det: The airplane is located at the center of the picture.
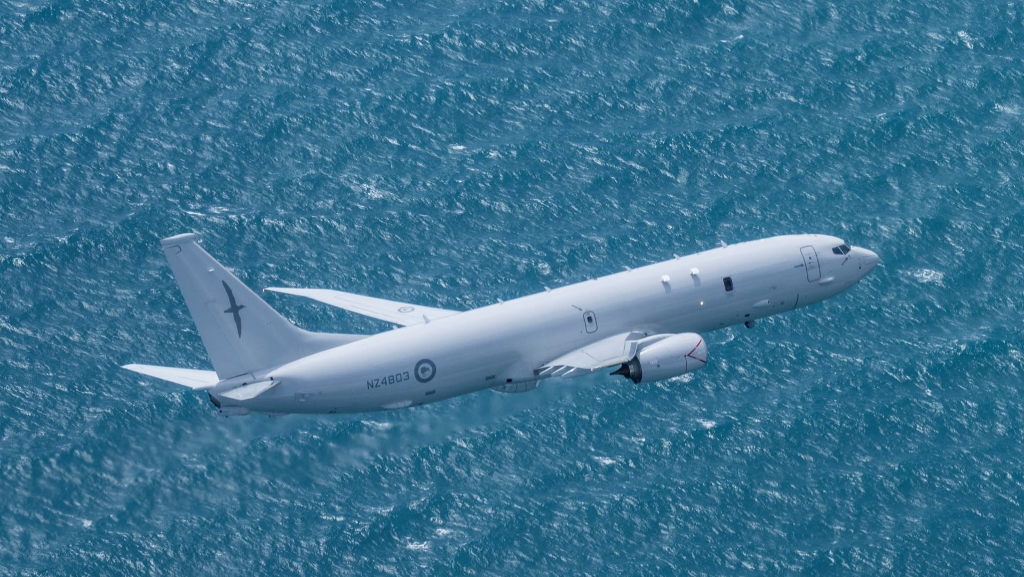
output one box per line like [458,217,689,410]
[122,233,878,418]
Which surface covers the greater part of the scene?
water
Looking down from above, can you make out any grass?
No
